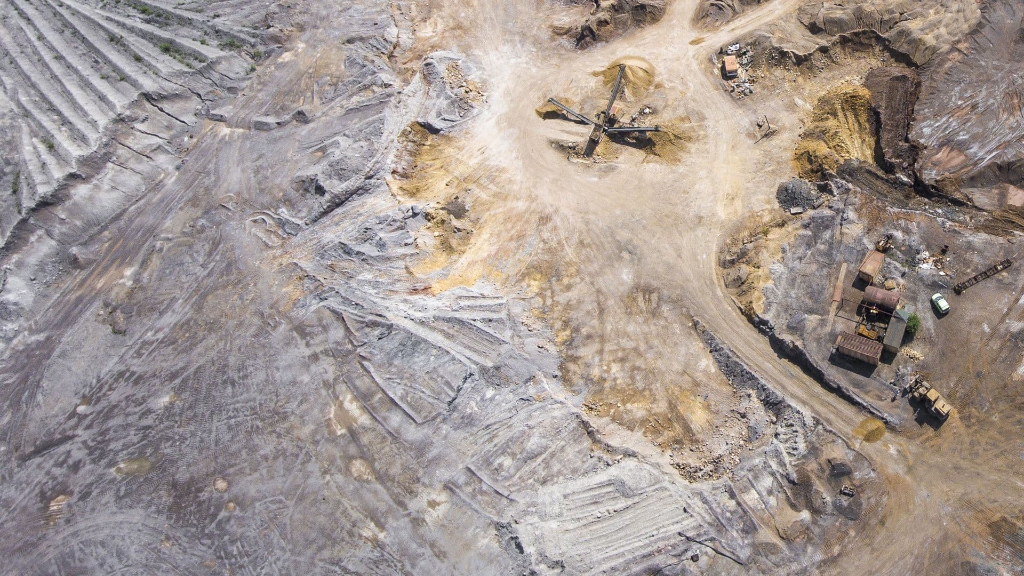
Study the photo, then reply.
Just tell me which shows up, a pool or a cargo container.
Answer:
cargo container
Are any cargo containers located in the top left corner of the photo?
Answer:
No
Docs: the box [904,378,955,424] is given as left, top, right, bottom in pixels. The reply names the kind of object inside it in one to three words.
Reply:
work vehicle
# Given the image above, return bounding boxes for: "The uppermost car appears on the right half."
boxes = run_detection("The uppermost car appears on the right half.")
[931,294,950,318]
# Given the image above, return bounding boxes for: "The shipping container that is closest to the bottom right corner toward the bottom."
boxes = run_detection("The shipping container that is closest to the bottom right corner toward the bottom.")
[839,334,883,366]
